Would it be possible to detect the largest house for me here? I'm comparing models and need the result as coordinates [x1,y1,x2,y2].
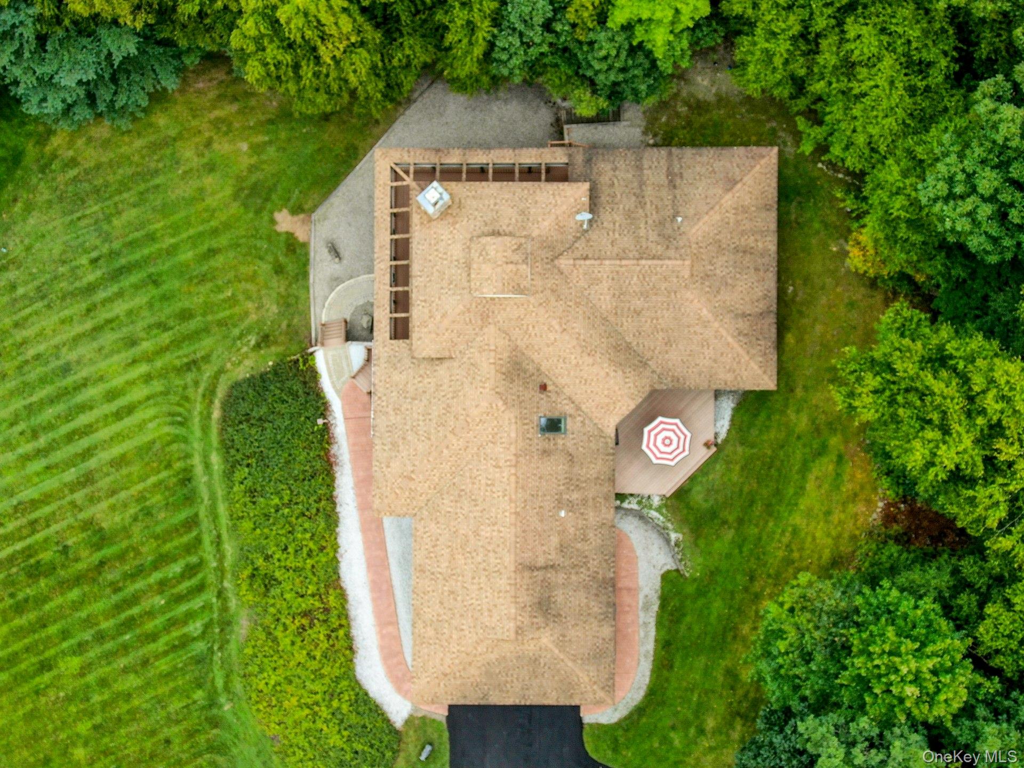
[372,146,779,705]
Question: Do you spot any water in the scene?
No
